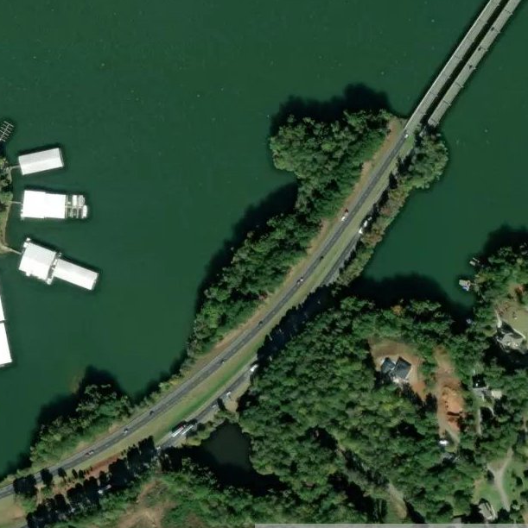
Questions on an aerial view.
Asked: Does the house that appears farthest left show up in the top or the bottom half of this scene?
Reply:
bottom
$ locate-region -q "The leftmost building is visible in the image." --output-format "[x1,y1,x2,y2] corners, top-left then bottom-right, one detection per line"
[379,359,412,380]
